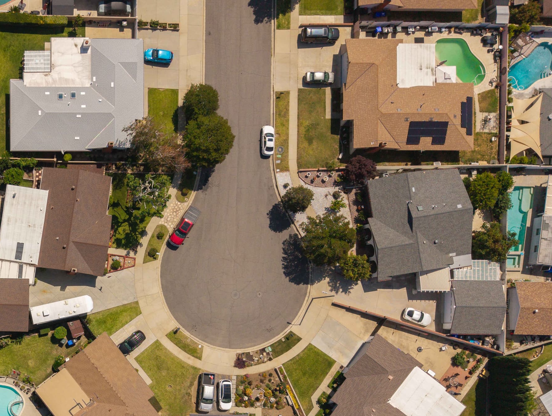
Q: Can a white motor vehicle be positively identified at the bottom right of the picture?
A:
Yes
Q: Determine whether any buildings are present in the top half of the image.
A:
Yes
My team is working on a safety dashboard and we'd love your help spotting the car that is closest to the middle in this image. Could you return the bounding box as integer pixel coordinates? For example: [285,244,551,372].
[260,125,275,157]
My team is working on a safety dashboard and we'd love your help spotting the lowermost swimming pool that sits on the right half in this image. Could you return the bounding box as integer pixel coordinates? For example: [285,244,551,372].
[506,253,524,269]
